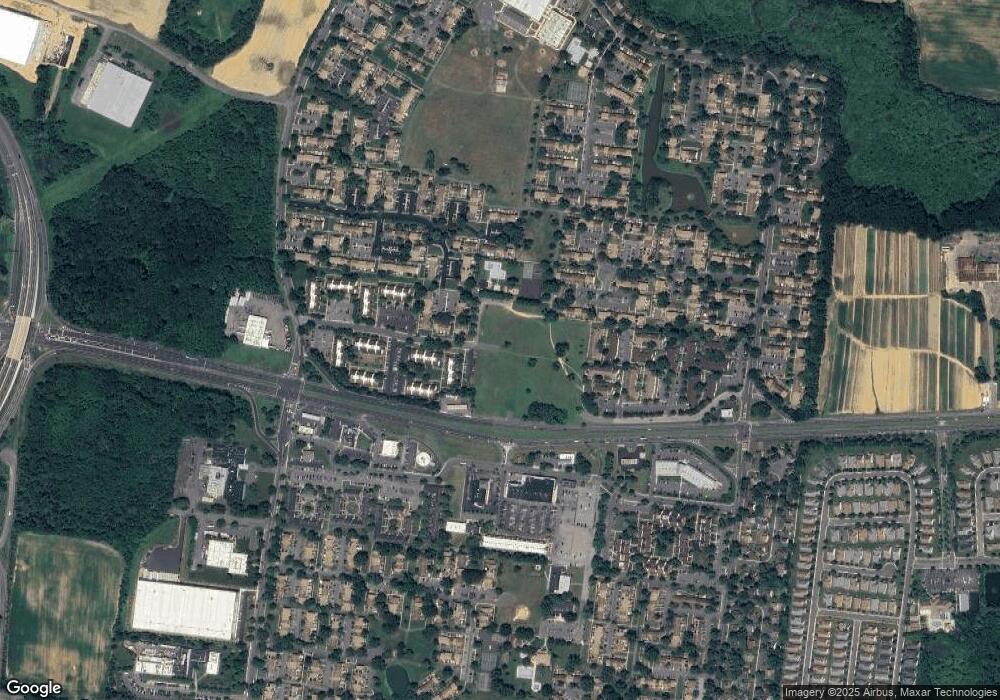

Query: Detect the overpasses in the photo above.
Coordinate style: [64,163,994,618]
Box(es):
[5,315,30,361]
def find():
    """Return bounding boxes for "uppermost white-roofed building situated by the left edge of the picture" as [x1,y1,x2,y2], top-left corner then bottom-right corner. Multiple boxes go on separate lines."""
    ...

[0,8,38,64]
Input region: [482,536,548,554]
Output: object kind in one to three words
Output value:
building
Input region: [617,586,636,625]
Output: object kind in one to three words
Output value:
house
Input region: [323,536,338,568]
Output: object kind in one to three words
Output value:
house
